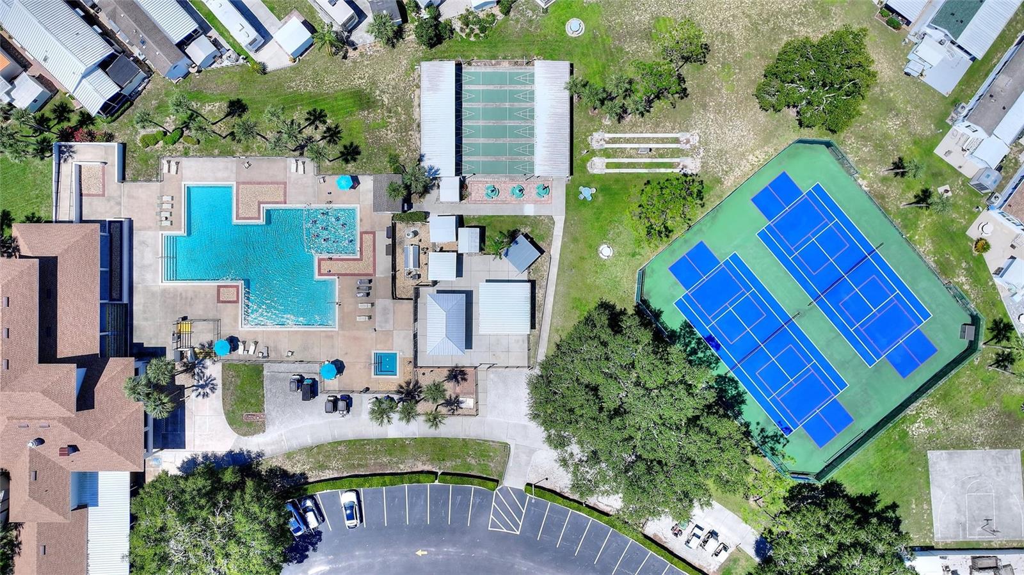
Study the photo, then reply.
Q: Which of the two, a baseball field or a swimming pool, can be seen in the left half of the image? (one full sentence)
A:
The feature located in the left half of the image is a swimming pool.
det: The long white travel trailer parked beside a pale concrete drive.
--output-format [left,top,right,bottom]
[206,0,270,55]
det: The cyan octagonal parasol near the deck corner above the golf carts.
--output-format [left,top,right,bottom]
[320,362,338,380]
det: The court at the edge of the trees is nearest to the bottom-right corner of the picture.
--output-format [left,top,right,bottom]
[928,450,1024,542]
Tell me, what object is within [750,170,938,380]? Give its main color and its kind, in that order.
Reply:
blue tennis court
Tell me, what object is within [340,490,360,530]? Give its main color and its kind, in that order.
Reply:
white car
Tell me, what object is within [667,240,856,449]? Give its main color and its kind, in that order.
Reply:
blue tennis court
